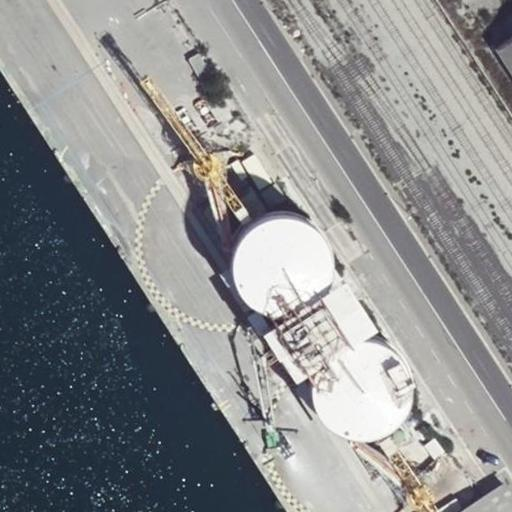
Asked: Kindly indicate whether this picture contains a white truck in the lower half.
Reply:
No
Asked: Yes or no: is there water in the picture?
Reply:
Yes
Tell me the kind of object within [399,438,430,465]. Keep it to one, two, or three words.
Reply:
building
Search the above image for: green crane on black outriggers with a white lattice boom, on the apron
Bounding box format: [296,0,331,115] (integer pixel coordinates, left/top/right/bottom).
[241,338,299,458]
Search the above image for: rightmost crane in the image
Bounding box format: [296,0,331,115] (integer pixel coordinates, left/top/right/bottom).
[353,443,460,512]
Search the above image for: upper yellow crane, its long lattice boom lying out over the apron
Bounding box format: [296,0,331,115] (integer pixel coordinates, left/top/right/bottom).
[137,73,248,241]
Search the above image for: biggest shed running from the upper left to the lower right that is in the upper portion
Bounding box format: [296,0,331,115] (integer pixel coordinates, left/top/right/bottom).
[242,153,292,212]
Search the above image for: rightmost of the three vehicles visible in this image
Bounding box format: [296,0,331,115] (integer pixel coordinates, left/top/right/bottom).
[478,450,500,465]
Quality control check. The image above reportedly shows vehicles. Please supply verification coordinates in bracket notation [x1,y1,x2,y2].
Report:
[192,96,219,127]
[478,450,500,465]
[178,108,198,134]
